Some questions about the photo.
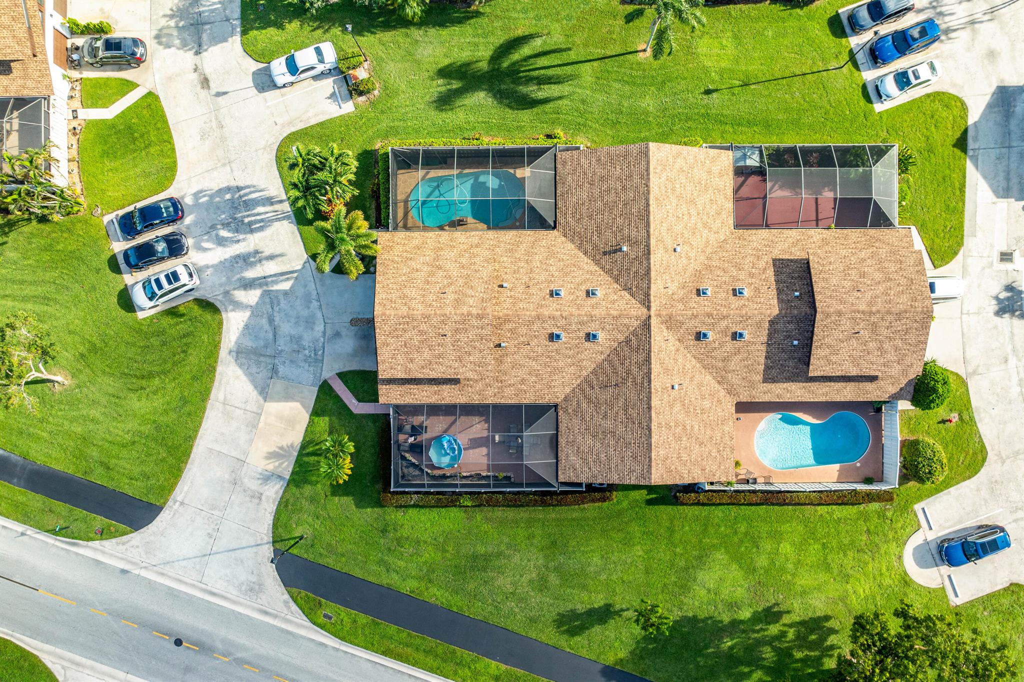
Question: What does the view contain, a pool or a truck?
pool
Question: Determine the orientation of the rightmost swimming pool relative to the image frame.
from left to right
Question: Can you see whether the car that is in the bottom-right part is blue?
Yes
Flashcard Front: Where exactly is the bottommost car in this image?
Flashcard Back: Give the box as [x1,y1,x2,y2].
[935,523,1012,565]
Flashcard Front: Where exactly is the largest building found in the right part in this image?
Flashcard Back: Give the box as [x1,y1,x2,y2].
[373,140,934,489]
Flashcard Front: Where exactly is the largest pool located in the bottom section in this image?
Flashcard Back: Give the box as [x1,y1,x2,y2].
[754,410,872,472]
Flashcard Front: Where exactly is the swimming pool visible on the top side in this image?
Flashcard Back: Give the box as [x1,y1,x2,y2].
[408,168,526,227]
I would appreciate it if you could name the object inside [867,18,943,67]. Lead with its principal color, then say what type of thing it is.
blue car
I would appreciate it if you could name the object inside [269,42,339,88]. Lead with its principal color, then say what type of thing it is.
white car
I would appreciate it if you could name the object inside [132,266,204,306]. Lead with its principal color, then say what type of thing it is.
white car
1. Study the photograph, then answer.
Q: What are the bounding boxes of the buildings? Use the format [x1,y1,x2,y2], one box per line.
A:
[0,0,71,107]
[373,140,934,489]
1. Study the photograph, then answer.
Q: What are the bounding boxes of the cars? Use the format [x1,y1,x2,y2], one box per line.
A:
[132,266,204,306]
[872,59,944,102]
[121,198,188,237]
[935,523,1012,565]
[121,232,193,270]
[926,276,966,303]
[269,42,339,88]
[844,0,917,37]
[867,18,943,67]
[81,34,151,69]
